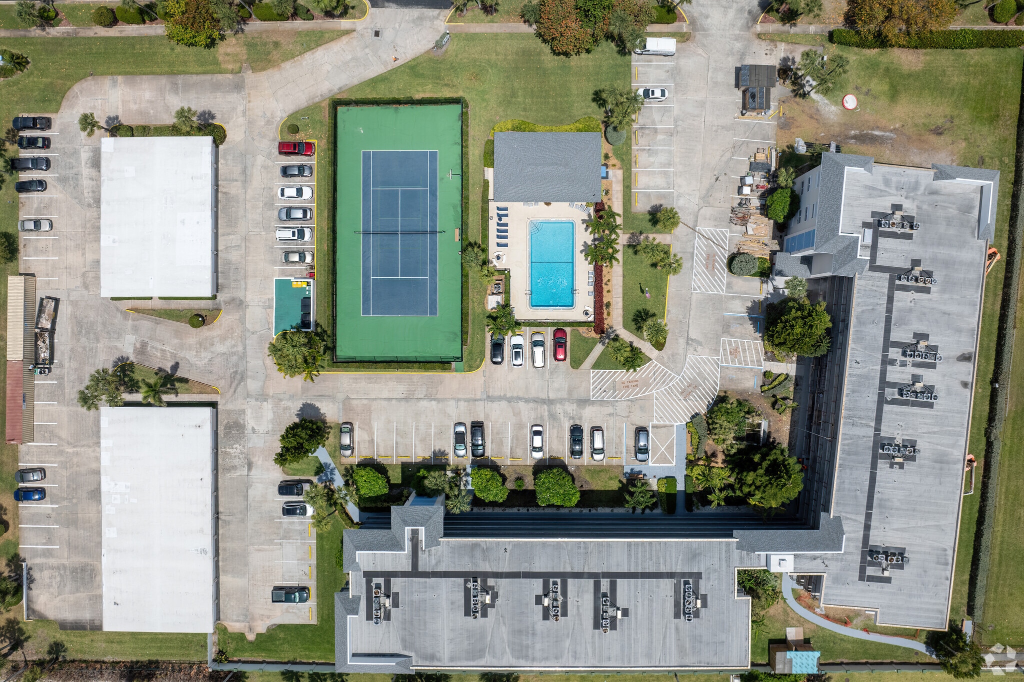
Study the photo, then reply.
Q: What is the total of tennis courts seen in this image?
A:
1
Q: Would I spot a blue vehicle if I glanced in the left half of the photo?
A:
Yes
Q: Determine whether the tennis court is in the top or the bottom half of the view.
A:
top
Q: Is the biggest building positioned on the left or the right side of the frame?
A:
right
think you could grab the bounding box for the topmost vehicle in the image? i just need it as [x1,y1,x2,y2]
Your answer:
[638,36,677,55]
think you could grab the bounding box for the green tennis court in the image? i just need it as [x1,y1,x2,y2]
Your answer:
[335,104,463,372]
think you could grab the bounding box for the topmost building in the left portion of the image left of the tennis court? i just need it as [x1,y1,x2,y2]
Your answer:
[101,136,224,297]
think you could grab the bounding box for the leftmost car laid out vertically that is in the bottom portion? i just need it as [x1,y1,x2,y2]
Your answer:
[338,422,354,457]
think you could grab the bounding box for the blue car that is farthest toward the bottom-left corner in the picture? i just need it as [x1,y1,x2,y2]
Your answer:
[14,487,48,503]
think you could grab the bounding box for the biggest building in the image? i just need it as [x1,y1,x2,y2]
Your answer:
[335,152,999,673]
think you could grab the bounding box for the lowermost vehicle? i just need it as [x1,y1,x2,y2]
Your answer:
[271,586,311,603]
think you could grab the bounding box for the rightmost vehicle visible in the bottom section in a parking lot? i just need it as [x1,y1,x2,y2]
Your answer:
[635,427,651,462]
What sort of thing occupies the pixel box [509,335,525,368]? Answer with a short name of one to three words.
car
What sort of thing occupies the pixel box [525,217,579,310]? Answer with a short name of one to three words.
swimming pool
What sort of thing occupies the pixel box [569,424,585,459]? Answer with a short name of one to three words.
car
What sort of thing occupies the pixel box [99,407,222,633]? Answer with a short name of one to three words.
building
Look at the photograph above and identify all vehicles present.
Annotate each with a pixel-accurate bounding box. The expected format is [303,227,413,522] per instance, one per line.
[638,36,677,55]
[13,177,49,194]
[338,422,354,457]
[552,329,568,362]
[12,114,54,131]
[509,335,525,368]
[14,487,48,503]
[569,424,585,459]
[470,421,486,457]
[14,468,48,484]
[529,425,545,459]
[452,422,468,457]
[271,586,311,603]
[278,185,313,200]
[304,273,315,278]
[635,427,651,462]
[18,217,54,233]
[18,134,53,150]
[278,139,315,156]
[279,206,313,222]
[278,481,315,498]
[276,226,313,242]
[282,249,314,265]
[590,426,606,461]
[282,502,316,518]
[9,155,52,172]
[489,333,505,365]
[530,333,546,369]
[280,163,313,179]
[637,86,668,102]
